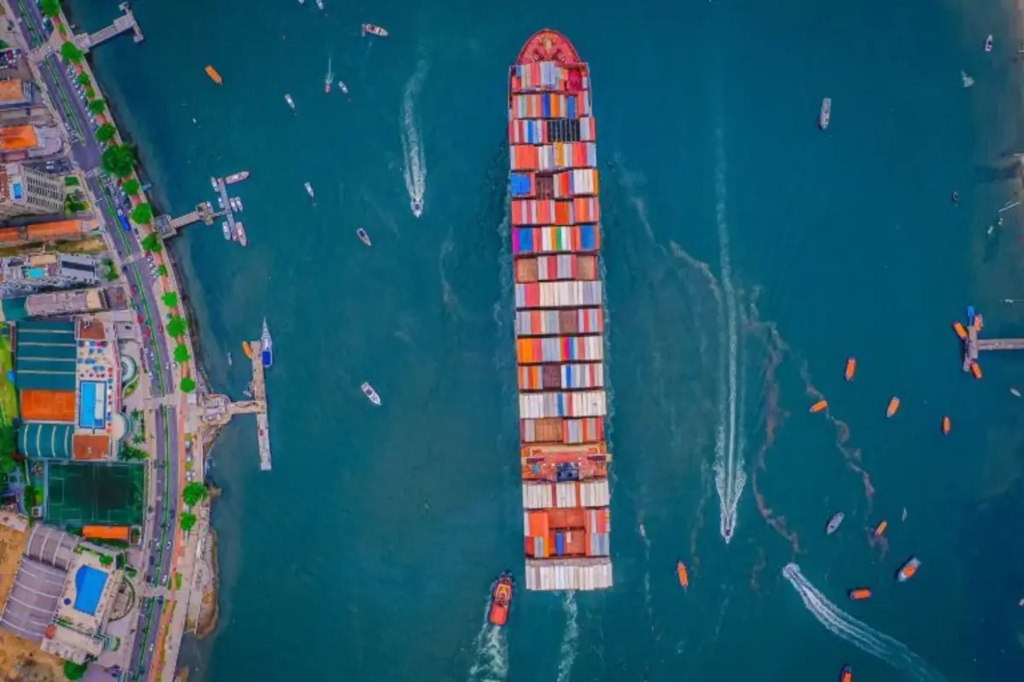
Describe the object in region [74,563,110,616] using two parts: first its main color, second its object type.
blue swimming pool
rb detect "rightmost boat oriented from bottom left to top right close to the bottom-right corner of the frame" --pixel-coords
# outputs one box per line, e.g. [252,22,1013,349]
[899,556,922,581]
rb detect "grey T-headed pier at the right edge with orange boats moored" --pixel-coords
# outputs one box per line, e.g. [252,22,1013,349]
[959,306,1024,372]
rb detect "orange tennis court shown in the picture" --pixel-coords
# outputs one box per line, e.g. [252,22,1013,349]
[22,390,75,421]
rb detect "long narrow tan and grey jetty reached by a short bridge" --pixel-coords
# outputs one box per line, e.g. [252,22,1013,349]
[230,342,273,470]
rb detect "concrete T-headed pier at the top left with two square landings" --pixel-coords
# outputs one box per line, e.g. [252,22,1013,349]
[73,1,147,54]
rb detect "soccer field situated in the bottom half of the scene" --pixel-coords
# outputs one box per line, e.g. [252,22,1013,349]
[42,463,144,526]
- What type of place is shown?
port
